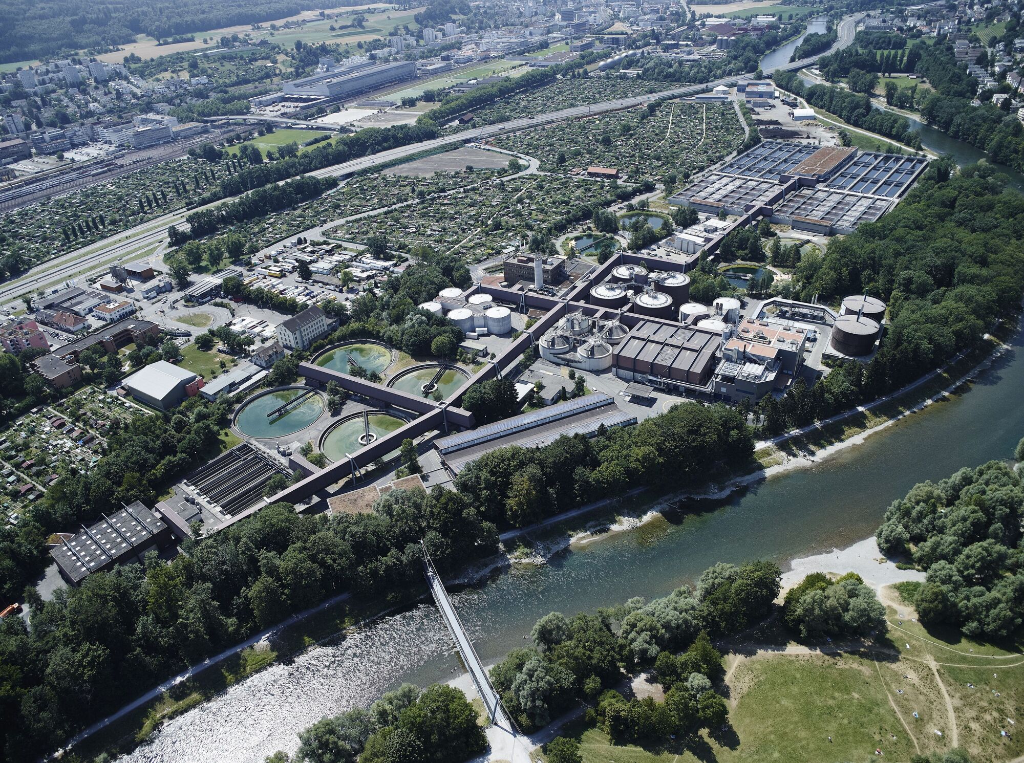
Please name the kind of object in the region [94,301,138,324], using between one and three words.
house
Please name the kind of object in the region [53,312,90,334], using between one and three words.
house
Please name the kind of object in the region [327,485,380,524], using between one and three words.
building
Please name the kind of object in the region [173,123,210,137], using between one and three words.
building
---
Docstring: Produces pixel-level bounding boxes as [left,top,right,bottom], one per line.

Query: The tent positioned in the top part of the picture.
[785,106,819,119]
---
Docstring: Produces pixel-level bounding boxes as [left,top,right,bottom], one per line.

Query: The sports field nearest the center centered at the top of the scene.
[381,148,527,176]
